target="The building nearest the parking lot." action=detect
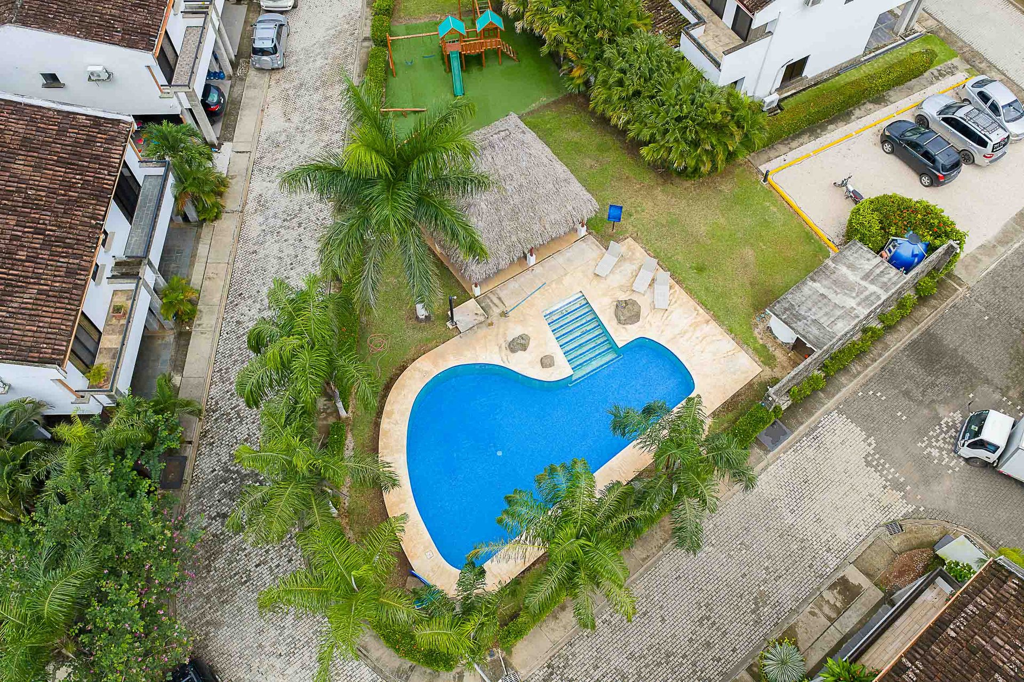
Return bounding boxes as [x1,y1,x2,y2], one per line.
[767,237,905,372]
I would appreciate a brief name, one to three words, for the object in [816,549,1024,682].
house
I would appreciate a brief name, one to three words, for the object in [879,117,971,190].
car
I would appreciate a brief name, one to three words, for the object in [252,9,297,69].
car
